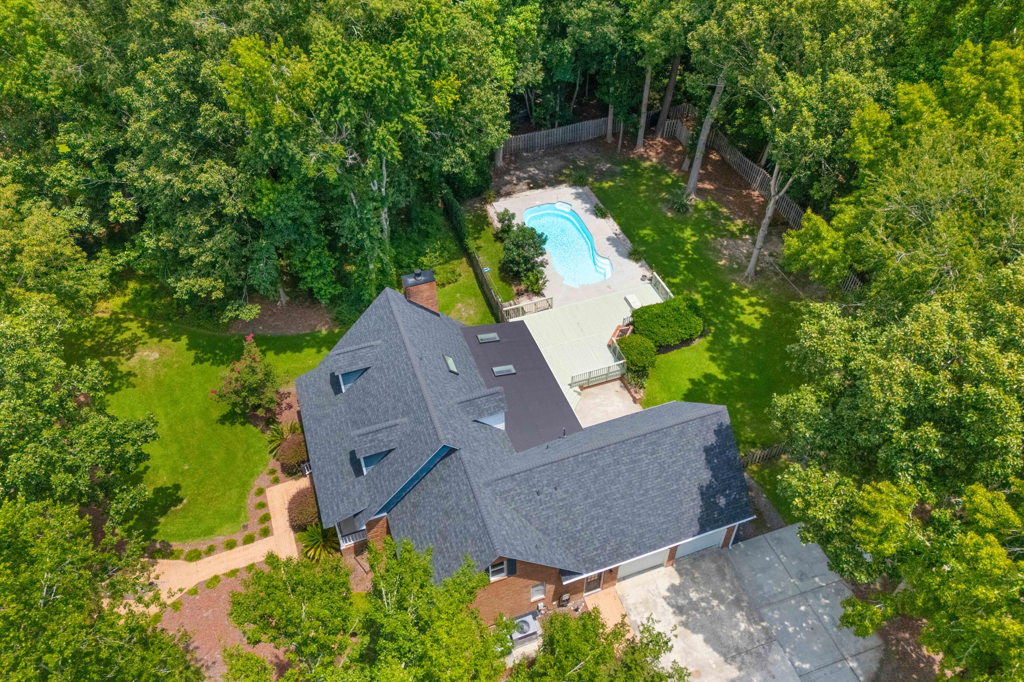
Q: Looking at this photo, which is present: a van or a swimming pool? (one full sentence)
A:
I can see a swimming pool in this picture.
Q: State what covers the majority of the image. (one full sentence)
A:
For the most part, this view shows trees.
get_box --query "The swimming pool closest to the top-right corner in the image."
[523,201,612,286]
